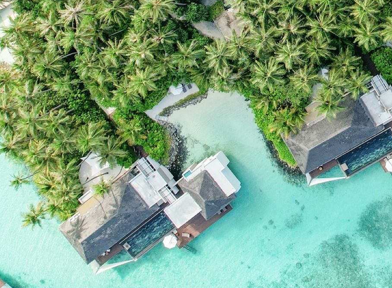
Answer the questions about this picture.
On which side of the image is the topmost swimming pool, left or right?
right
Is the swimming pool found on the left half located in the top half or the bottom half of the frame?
bottom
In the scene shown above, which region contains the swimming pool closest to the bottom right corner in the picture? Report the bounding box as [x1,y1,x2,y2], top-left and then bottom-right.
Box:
[335,126,392,180]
